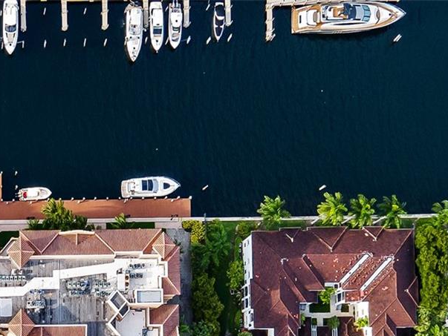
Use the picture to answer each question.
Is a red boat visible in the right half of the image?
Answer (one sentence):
No, no red boat is visible in the right half of the image.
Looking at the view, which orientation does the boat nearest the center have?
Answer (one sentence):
The boat nearest the center has been laid out from left to right relative to the frame.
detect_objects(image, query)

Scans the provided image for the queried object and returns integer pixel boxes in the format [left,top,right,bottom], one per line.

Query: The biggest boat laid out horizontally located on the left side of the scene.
[117,177,179,197]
